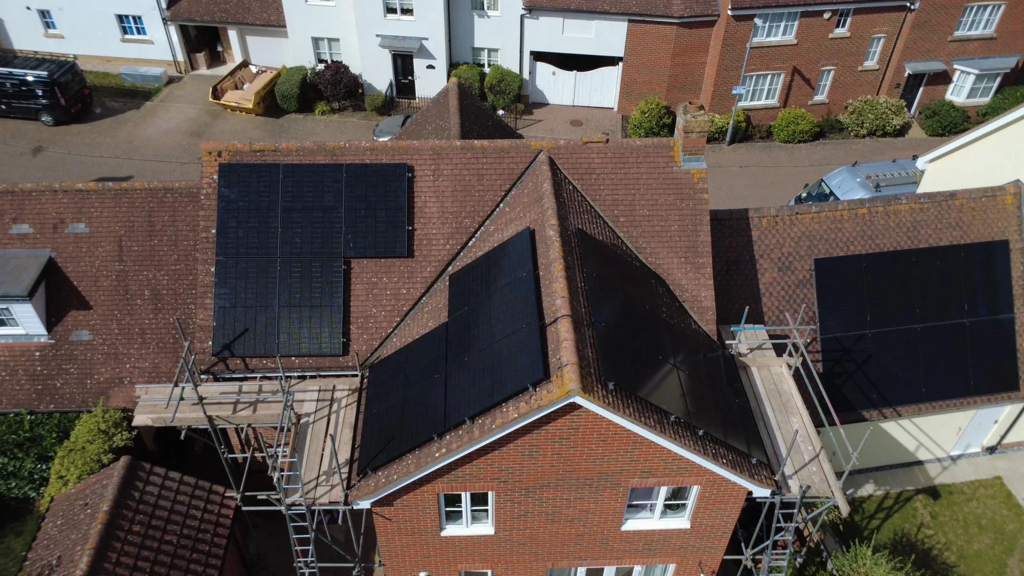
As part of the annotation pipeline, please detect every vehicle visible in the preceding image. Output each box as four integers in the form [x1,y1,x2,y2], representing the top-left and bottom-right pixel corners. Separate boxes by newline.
[772,152,923,203]
[373,105,425,144]
[0,57,96,129]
